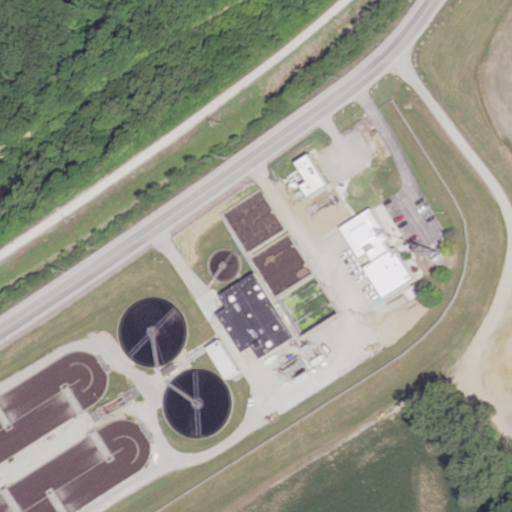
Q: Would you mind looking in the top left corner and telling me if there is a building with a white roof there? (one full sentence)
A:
No, in the top left corner there is no building with a white roof.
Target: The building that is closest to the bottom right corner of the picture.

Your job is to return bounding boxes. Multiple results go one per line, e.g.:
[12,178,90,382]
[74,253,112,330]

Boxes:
[362,251,415,297]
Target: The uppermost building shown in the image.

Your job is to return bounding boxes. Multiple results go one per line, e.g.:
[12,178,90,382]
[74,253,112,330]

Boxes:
[293,154,328,196]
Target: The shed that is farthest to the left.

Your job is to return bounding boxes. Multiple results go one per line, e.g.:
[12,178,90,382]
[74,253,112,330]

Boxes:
[205,340,242,381]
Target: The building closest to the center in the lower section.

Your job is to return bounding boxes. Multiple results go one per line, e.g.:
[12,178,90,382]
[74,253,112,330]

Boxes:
[216,271,295,358]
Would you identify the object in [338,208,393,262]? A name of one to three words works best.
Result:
building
